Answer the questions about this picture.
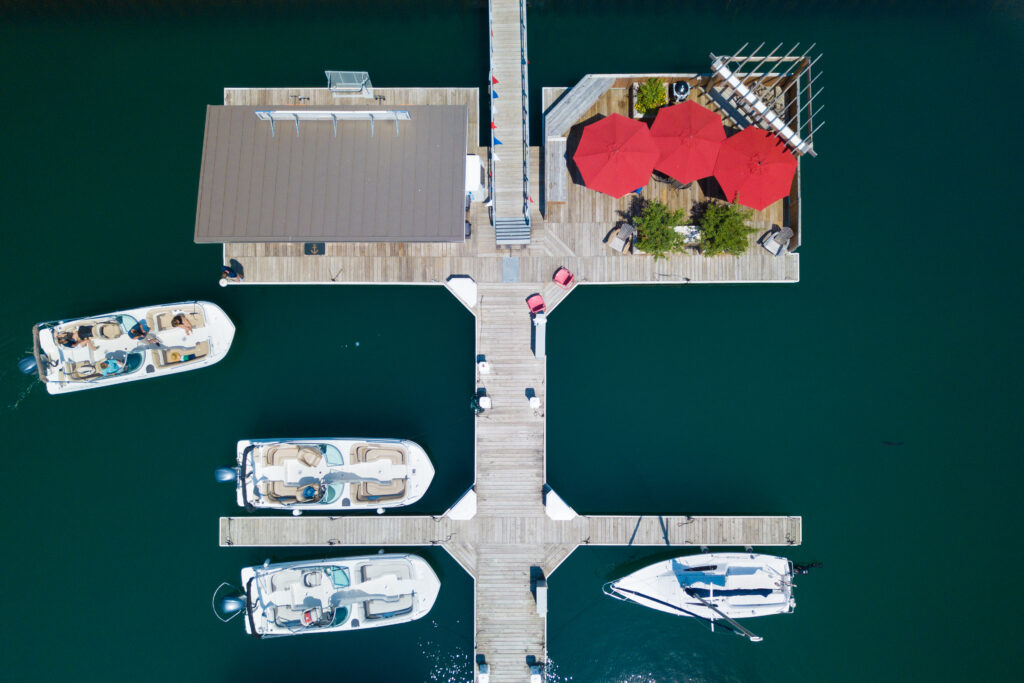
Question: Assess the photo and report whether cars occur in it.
No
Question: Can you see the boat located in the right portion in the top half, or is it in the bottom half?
bottom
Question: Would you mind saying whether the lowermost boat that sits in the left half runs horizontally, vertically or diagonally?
horizontally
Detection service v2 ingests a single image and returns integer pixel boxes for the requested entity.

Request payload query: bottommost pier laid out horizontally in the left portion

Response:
[219,486,476,579]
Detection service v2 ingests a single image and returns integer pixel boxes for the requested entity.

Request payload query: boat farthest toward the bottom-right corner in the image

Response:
[602,552,823,642]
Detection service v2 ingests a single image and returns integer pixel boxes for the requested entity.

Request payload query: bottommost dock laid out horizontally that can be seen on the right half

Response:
[545,485,802,578]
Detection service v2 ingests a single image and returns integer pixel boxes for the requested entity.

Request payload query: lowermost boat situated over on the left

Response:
[219,551,440,638]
